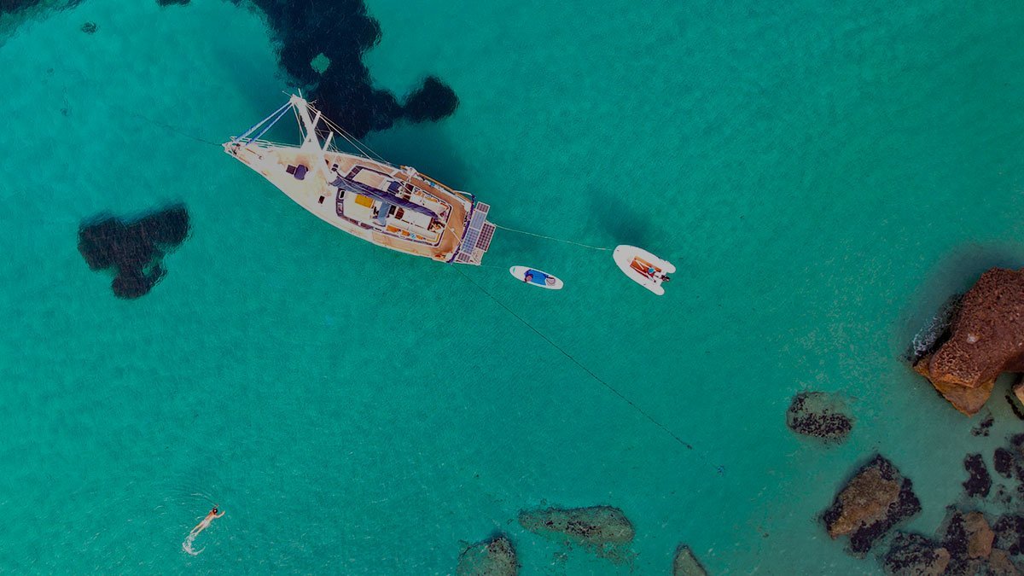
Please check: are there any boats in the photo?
Yes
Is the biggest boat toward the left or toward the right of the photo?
left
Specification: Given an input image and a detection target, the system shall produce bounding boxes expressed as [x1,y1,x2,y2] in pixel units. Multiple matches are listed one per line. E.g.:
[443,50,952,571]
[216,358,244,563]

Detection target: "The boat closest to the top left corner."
[219,88,496,265]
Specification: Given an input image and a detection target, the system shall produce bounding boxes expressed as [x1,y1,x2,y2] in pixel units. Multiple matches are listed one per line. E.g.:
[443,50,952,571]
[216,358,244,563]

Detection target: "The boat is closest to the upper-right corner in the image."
[613,244,673,295]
